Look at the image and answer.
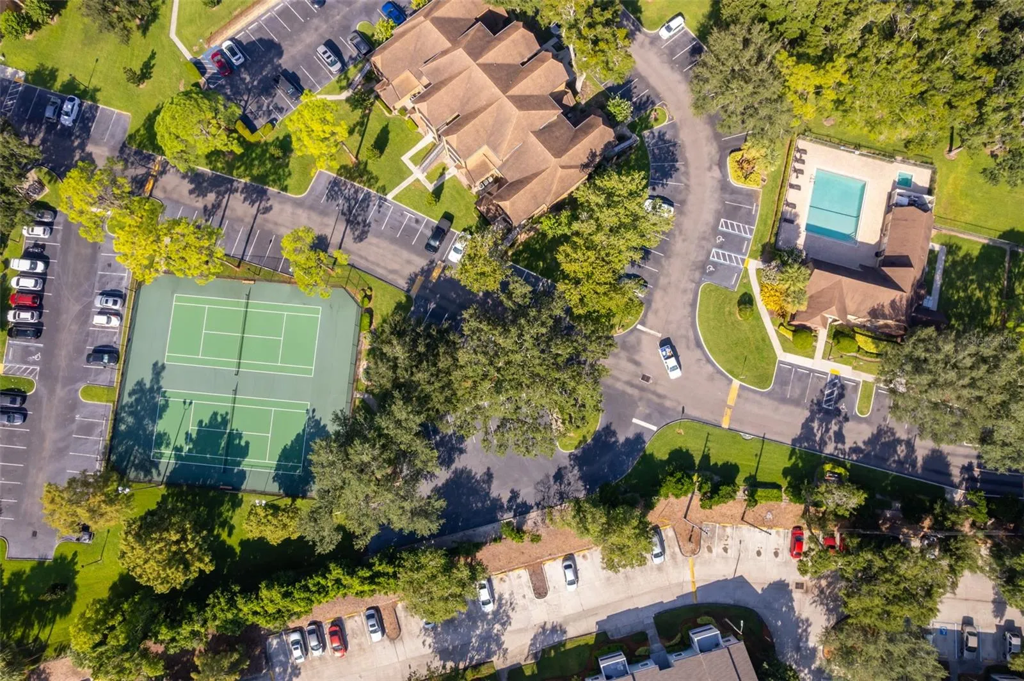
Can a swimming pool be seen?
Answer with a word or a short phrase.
Yes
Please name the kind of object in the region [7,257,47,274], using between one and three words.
vehicle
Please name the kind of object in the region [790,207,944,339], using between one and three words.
building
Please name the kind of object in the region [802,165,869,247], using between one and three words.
swimming pool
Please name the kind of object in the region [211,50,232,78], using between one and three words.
car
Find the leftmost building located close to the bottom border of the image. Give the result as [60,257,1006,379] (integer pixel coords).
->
[598,614,757,681]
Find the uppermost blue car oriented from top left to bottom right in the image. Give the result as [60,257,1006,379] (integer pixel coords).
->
[380,0,405,27]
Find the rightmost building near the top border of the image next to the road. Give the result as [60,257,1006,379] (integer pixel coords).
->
[366,0,622,235]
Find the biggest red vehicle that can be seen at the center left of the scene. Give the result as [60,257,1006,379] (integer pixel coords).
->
[9,291,41,307]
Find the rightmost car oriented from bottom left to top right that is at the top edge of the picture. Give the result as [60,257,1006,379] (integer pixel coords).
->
[658,14,686,40]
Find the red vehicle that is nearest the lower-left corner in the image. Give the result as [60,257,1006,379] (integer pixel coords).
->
[328,622,346,655]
